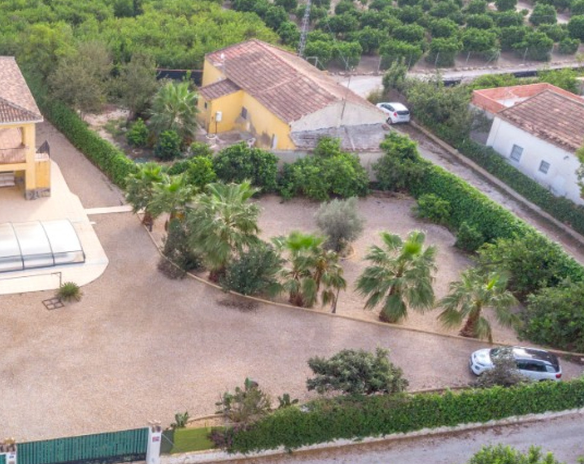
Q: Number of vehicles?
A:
two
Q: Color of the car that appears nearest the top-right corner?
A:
white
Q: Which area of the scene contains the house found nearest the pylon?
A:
top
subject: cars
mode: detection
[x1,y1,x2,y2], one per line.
[377,101,415,123]
[464,334,567,379]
